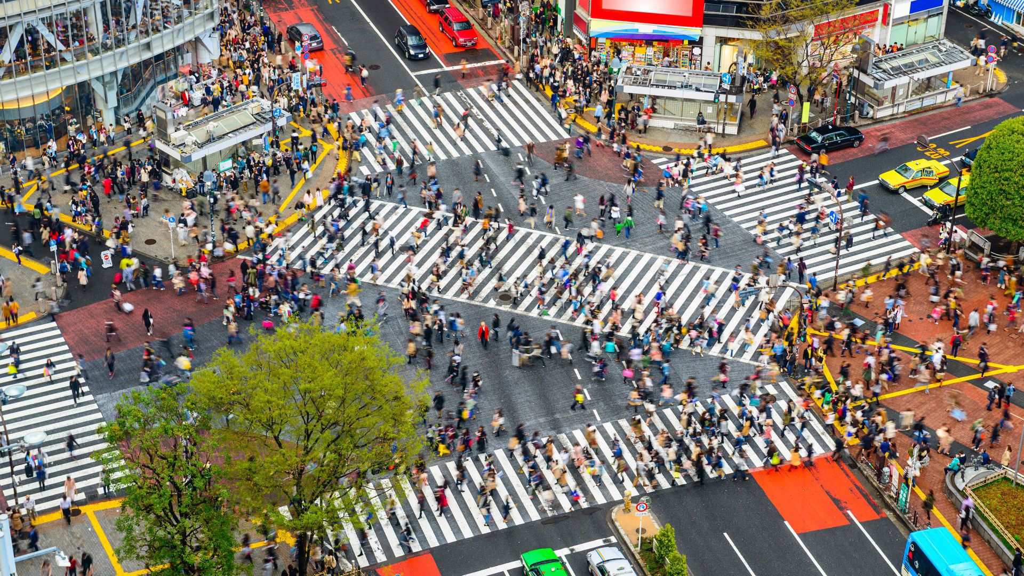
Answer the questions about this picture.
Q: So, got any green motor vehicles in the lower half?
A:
Yes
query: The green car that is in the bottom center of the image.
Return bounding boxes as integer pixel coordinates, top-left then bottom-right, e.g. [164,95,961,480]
[529,553,578,576]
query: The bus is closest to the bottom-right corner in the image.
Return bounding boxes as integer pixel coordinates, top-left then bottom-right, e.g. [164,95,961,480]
[903,526,989,576]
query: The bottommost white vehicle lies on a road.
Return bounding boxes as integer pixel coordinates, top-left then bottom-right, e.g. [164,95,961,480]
[591,549,644,576]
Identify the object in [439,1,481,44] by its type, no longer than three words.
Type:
car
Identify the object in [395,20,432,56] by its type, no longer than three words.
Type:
car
